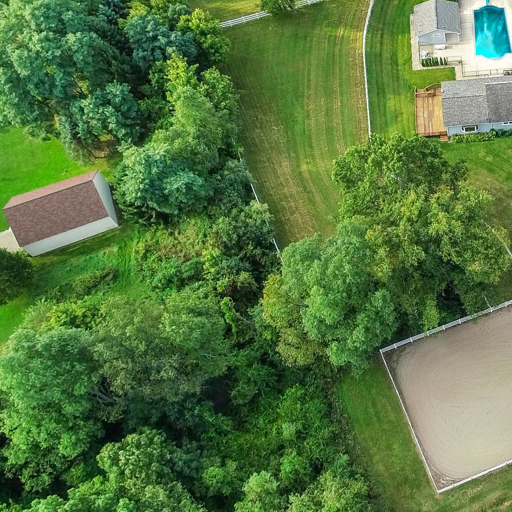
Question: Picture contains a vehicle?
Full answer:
No, there appears to be no vehicle in this shot.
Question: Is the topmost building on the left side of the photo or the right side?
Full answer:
You can find the topmost building on the right side of the picture.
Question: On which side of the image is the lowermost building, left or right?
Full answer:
The lowermost building appears in the left half of the scene.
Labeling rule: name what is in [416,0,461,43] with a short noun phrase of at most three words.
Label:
building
